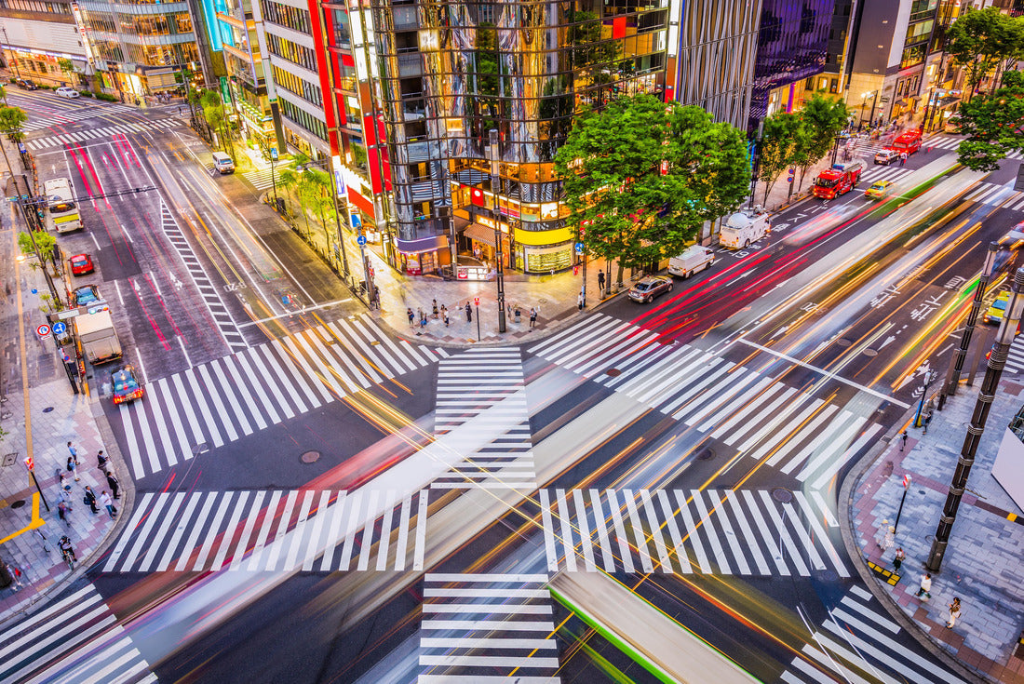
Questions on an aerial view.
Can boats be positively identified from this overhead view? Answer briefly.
No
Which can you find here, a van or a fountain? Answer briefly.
van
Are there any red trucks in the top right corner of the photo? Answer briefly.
Yes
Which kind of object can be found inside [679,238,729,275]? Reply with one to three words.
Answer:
van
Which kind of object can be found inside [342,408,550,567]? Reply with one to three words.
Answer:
bus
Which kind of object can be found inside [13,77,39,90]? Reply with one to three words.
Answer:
vehicle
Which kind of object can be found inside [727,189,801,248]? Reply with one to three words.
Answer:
truck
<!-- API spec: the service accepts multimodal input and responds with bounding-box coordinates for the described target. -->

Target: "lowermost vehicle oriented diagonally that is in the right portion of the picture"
[550,558,725,684]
